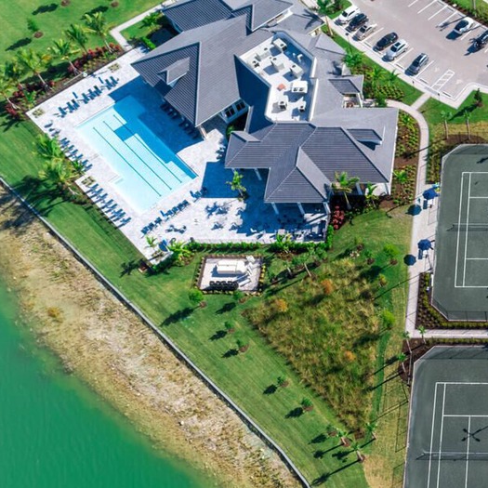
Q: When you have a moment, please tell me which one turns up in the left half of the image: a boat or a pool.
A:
pool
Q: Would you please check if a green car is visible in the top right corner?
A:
No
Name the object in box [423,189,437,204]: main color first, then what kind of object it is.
blue umbrella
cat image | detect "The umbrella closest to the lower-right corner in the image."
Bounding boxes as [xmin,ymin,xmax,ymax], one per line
[417,239,432,254]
